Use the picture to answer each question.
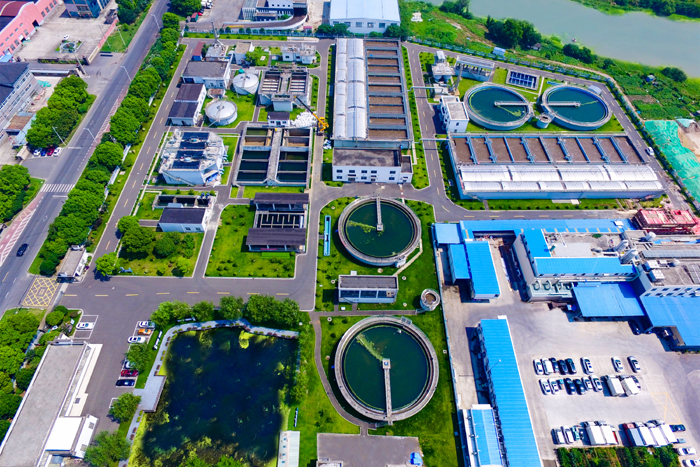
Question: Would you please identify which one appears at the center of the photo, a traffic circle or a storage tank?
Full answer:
Looking at the center of the photo, you will find a storage tank.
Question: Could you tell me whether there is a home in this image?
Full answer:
Yes, a home appears in the view.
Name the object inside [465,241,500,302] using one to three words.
building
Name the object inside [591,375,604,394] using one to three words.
vehicle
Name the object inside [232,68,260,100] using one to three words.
storage tank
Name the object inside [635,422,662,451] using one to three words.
truck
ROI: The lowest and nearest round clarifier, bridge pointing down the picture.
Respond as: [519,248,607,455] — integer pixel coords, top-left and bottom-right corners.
[334,315,440,423]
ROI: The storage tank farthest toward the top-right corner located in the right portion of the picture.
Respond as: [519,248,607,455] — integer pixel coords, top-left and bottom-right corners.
[537,79,615,133]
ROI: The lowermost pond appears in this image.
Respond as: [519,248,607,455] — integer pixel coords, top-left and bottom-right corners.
[139,325,300,467]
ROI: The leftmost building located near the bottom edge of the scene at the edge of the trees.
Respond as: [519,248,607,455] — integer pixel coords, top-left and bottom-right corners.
[0,345,108,467]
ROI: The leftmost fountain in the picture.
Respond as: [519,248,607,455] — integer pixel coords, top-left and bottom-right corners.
[50,39,88,56]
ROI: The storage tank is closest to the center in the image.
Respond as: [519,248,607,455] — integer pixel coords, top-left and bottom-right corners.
[338,193,422,268]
